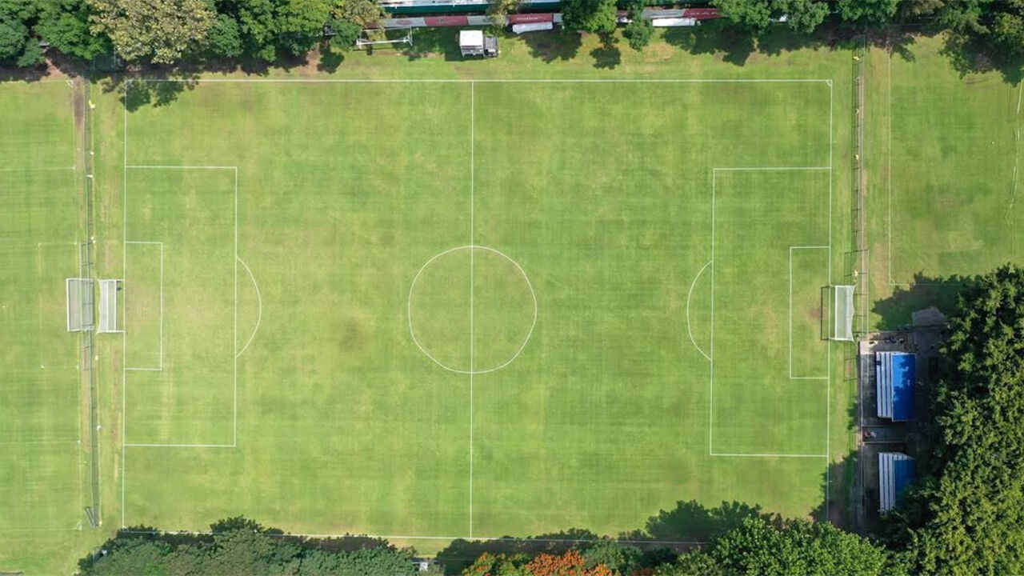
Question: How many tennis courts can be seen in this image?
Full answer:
There are no tennis courts in this view.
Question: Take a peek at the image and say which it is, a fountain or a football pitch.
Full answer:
Visible in the photo is a football pitch.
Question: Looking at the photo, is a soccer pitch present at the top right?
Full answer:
Yes, you'll find a soccer pitch at the top right.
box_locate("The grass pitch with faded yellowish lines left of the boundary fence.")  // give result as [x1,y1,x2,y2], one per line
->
[0,80,103,539]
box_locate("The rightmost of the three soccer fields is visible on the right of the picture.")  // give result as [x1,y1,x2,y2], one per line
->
[889,25,1024,285]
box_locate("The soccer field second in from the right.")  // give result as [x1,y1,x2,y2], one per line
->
[110,68,846,561]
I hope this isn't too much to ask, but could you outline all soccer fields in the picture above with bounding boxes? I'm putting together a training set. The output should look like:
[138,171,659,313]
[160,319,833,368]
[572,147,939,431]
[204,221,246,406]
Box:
[110,68,846,561]
[889,25,1024,285]
[0,80,103,539]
